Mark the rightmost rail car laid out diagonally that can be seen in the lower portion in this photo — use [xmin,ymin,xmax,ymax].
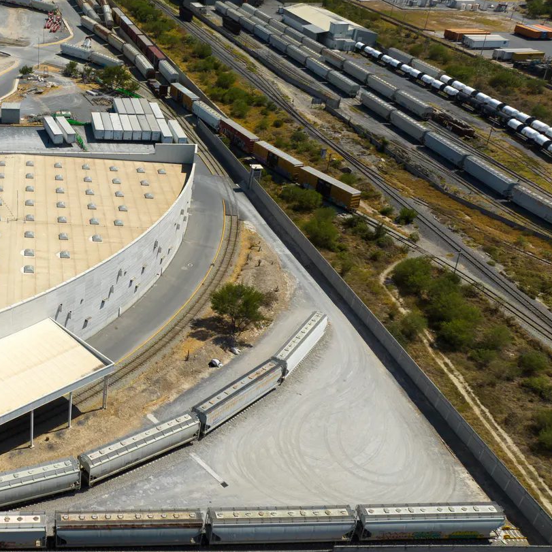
[274,310,333,381]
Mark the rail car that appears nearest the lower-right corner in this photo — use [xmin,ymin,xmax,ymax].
[353,500,509,542]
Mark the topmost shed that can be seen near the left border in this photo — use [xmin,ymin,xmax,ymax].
[1,102,20,123]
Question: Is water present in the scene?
No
